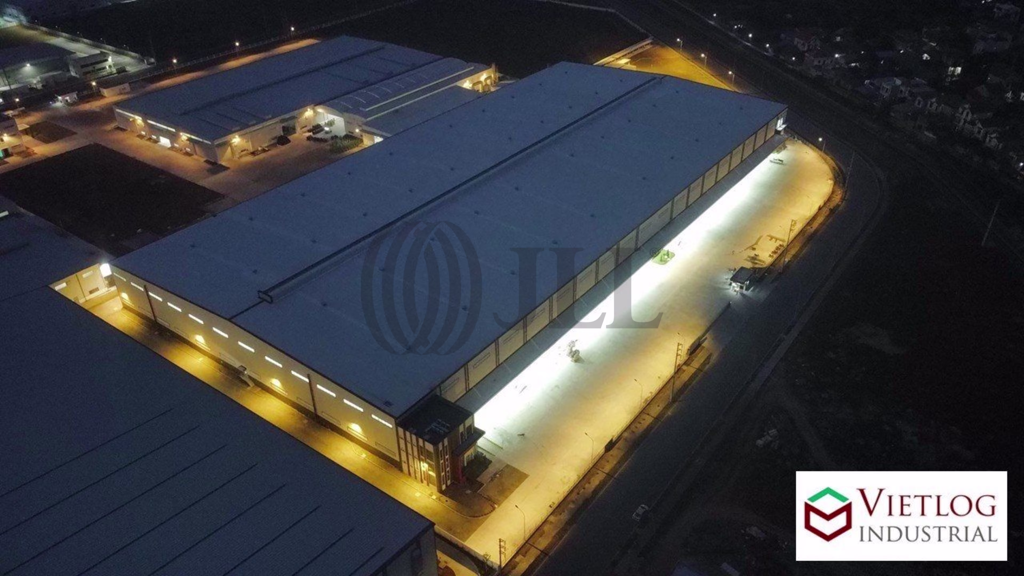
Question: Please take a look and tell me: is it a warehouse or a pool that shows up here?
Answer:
warehouse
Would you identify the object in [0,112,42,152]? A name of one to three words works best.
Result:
building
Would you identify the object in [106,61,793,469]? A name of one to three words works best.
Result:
warehouse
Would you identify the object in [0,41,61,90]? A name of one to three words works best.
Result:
building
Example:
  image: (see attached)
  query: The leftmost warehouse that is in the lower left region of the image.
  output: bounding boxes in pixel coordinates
[0,281,440,576]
